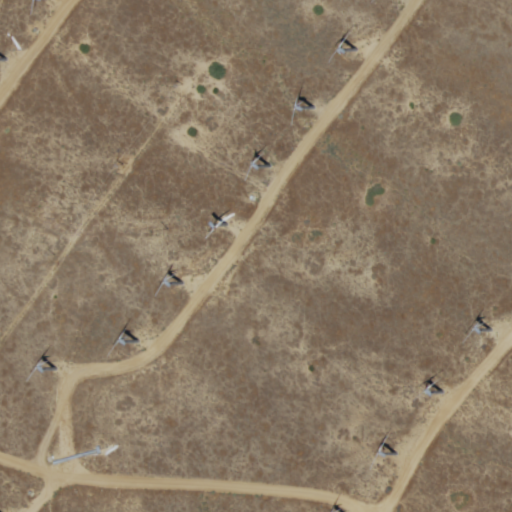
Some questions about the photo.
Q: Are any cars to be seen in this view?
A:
No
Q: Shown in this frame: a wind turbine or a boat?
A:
wind turbine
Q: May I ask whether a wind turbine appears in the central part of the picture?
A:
Yes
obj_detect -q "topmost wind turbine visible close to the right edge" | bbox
[462,318,493,342]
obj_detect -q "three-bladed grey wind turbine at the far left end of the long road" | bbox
[26,358,58,382]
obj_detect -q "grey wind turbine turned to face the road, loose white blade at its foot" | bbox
[208,216,228,240]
